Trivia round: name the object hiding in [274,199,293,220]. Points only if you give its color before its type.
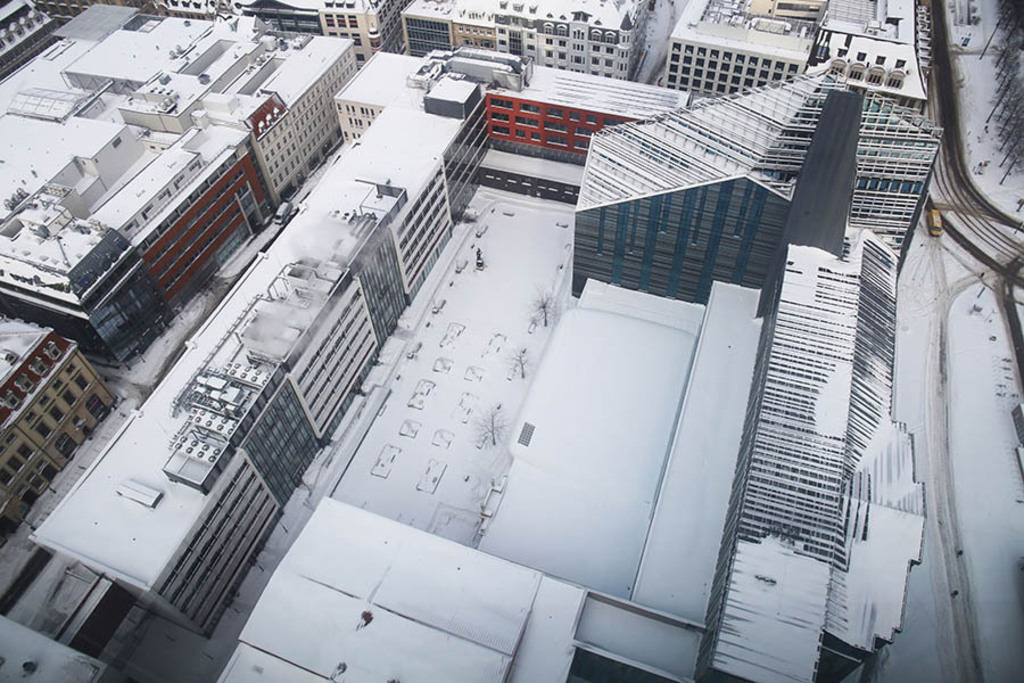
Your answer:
gray vehicle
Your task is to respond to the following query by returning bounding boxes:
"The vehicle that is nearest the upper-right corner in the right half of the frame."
[931,205,947,232]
